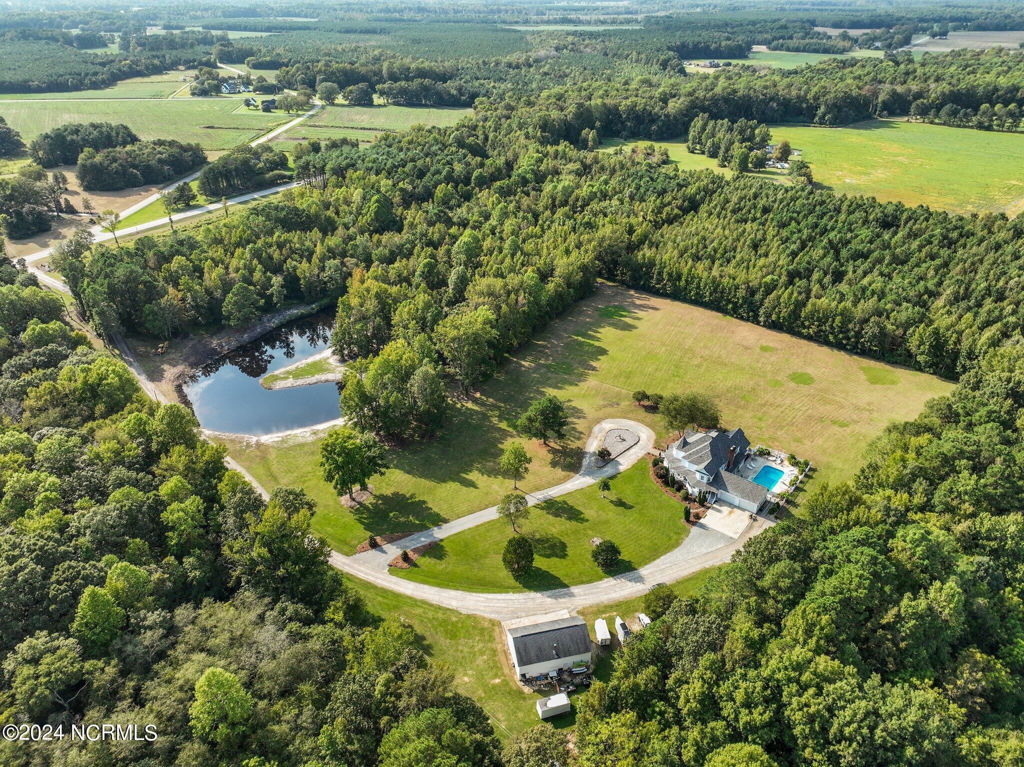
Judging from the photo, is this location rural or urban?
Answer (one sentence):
It looks rural.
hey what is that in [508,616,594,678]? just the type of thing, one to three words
barn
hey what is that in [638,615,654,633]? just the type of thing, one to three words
vehicle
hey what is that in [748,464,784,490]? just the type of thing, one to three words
swimming pool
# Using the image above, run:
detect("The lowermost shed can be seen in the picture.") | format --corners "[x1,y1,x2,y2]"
[537,692,571,718]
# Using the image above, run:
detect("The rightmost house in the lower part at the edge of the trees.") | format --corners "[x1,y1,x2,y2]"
[664,425,768,513]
